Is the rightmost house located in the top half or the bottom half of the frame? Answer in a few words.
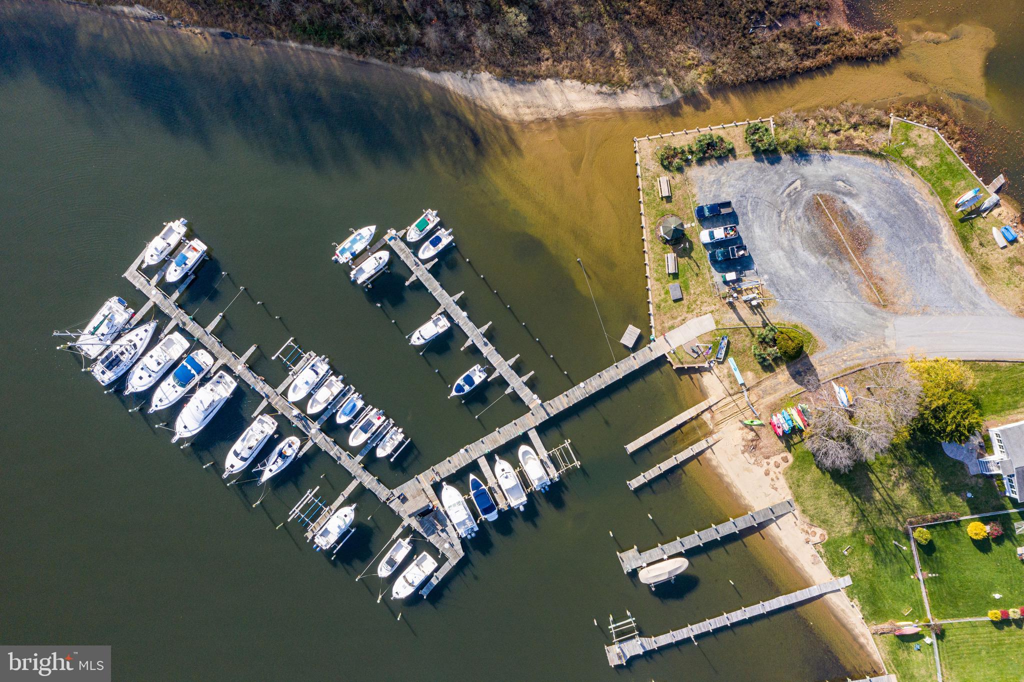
bottom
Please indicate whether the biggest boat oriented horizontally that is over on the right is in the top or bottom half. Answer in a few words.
bottom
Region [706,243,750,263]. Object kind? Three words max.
vehicle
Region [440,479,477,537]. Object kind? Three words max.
boat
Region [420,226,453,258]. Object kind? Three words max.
boat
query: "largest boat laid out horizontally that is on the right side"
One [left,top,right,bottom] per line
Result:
[636,557,689,583]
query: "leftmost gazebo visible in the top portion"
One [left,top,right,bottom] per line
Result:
[655,215,683,242]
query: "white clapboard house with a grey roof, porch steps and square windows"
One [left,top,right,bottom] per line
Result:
[972,420,1024,502]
